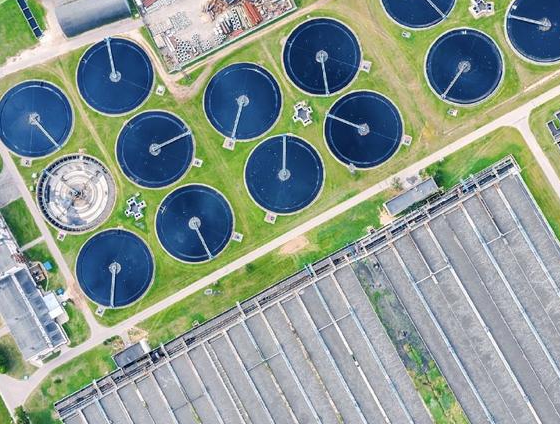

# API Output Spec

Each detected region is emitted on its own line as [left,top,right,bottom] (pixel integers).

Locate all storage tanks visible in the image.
[424,26,505,107]
[113,108,195,190]
[73,228,155,310]
[74,35,155,116]
[243,133,325,215]
[380,0,456,30]
[202,61,282,141]
[153,183,236,264]
[281,16,363,97]
[34,153,116,234]
[0,78,74,158]
[505,0,560,64]
[323,89,405,170]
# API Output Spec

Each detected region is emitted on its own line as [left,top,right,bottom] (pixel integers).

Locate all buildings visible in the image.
[0,210,72,368]
[384,178,439,215]
[52,0,132,39]
[113,342,149,367]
